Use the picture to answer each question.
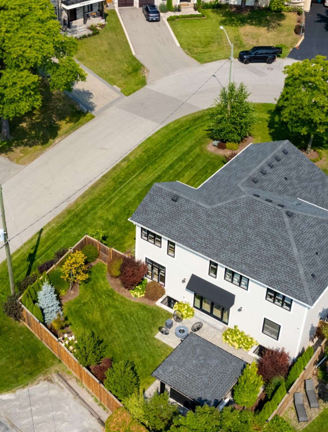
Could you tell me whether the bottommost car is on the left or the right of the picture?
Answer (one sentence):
You can find the bottommost car on the right side of the picture.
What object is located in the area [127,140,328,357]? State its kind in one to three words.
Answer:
house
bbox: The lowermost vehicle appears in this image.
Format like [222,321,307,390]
[239,44,280,65]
